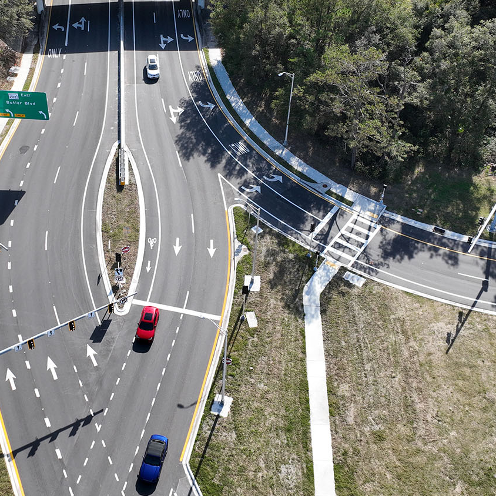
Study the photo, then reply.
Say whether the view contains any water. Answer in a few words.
No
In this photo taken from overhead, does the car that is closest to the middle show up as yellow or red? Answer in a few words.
red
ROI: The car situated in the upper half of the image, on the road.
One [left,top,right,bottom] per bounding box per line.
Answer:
[144,56,161,80]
